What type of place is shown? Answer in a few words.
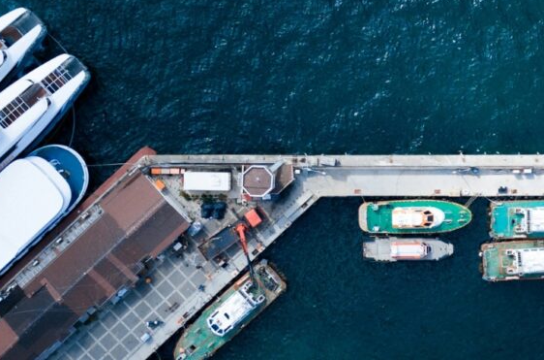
port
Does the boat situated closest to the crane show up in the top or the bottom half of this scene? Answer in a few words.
bottom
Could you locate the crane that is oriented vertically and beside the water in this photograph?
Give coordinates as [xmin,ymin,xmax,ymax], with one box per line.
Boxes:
[232,219,262,295]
